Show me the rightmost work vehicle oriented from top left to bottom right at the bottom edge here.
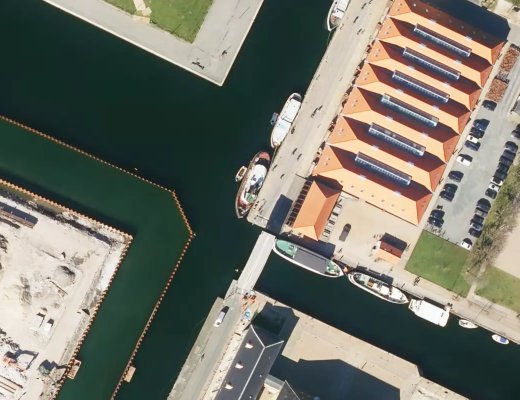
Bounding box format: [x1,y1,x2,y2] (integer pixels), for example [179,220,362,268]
[36,362,56,386]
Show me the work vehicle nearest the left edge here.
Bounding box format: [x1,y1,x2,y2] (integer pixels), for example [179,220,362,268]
[1,355,24,372]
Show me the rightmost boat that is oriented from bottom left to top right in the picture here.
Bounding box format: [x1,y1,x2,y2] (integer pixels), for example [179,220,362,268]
[326,0,350,31]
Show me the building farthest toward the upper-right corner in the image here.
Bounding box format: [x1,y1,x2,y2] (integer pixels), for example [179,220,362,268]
[315,0,508,226]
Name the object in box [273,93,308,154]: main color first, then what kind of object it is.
white boat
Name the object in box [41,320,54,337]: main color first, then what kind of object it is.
white vehicle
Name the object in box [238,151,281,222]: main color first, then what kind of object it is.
white ship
